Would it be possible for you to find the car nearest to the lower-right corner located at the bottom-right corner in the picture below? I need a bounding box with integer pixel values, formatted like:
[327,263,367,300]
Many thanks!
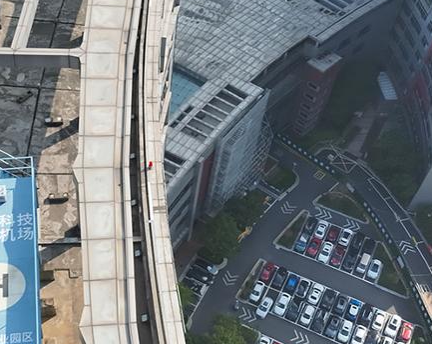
[400,320,416,342]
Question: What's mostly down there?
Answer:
buildings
